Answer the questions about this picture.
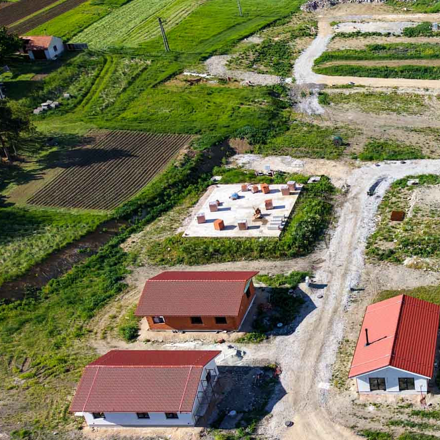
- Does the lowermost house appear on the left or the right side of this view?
left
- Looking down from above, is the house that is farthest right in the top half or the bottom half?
bottom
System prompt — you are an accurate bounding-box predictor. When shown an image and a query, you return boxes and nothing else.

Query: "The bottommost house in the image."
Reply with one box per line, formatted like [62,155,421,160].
[68,350,223,427]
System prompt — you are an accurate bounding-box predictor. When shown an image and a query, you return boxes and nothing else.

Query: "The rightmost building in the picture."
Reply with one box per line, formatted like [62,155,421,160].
[347,293,440,394]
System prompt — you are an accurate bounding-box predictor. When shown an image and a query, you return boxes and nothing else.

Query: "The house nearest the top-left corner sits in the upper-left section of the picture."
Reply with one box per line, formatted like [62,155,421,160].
[25,38,60,60]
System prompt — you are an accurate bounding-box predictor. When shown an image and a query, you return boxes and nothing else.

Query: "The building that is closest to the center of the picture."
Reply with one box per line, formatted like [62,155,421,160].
[134,271,260,331]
